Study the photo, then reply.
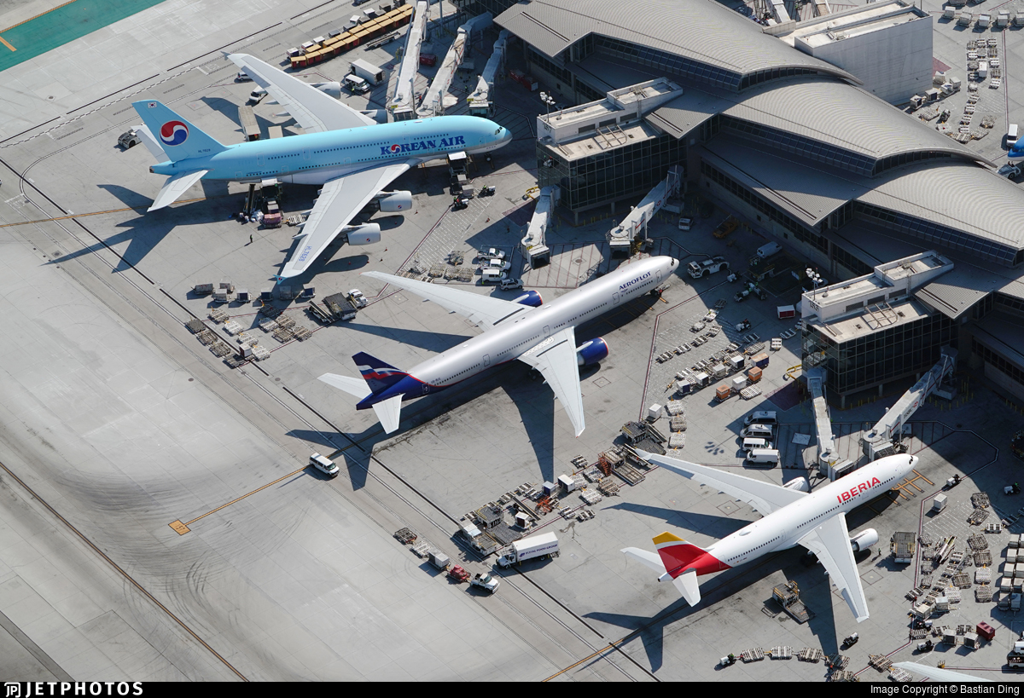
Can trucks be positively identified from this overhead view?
Yes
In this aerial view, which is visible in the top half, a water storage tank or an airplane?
airplane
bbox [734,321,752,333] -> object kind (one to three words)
vehicle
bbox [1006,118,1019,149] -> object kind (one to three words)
vehicle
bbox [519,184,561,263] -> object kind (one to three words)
jet bridge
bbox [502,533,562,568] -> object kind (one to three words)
truck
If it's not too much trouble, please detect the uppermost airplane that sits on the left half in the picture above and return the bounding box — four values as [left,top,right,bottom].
[127,51,512,283]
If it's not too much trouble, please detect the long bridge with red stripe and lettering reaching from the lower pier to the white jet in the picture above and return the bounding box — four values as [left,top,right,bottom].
[861,345,958,456]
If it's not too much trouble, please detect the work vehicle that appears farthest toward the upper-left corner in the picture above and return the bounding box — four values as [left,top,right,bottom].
[113,130,140,149]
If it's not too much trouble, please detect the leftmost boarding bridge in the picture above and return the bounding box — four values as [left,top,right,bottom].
[390,0,440,119]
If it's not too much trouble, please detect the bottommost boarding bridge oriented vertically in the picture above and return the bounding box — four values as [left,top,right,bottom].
[803,366,855,475]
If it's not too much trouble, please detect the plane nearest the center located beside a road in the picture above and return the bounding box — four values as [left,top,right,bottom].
[320,257,679,435]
